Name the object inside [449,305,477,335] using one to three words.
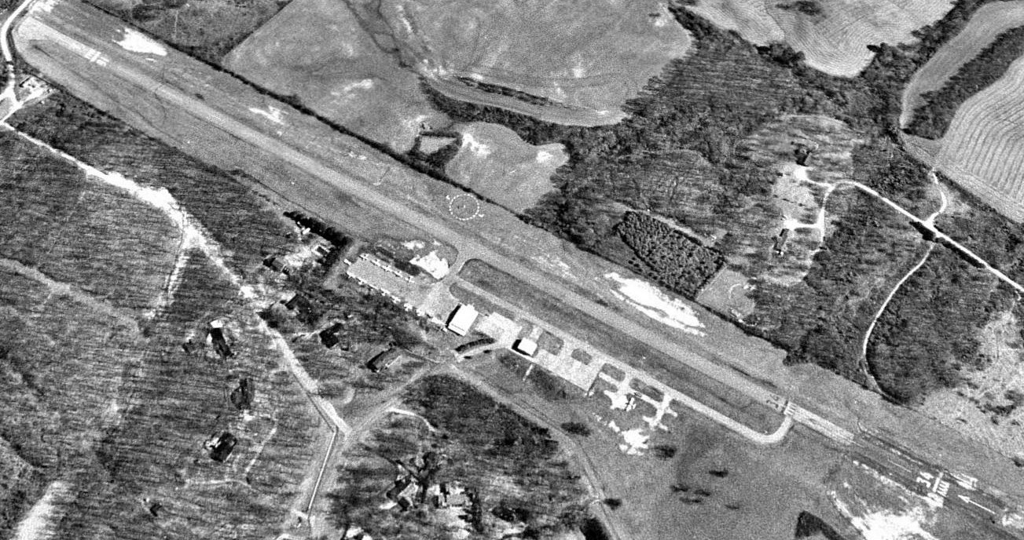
hangar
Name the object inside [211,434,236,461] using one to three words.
house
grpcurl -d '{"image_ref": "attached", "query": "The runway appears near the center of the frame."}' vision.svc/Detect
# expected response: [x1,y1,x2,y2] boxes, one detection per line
[32,18,788,414]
